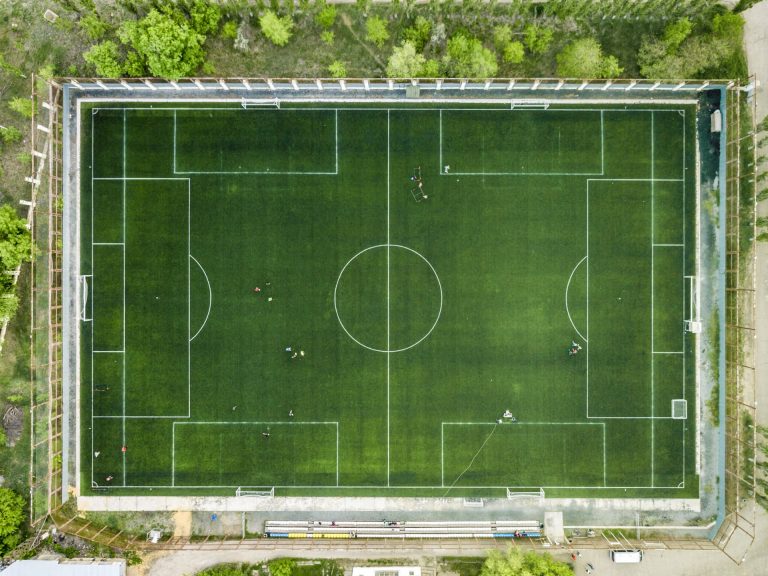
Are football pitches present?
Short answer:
Yes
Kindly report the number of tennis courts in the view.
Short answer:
none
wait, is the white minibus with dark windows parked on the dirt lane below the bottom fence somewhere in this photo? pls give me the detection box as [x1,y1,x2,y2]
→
[608,546,639,562]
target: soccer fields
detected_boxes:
[80,103,700,497]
